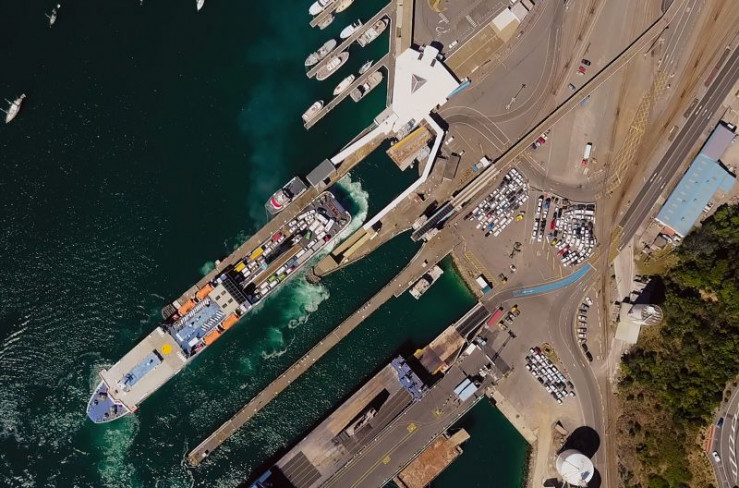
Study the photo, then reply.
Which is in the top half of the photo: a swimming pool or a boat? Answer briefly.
boat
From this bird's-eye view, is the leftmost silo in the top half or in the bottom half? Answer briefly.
bottom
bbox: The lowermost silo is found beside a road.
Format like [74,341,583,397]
[554,446,595,488]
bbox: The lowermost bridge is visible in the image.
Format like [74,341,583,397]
[414,302,491,374]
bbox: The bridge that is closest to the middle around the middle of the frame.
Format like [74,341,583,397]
[408,196,461,244]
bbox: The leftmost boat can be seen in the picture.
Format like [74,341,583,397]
[1,95,25,123]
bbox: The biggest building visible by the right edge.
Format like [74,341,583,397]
[652,153,735,237]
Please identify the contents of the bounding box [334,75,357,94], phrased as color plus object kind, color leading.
white boat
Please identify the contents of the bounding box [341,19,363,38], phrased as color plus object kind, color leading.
white boat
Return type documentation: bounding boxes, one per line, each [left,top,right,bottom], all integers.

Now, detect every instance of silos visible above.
[554,446,595,488]
[626,303,663,327]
